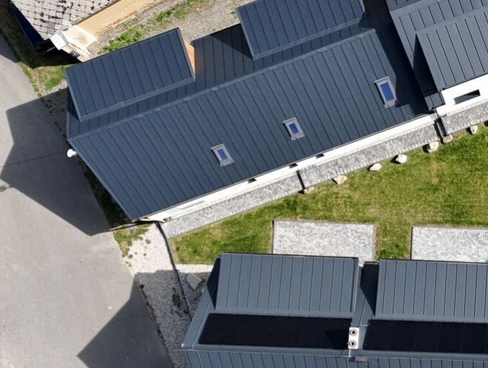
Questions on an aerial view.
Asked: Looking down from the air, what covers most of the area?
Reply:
buildings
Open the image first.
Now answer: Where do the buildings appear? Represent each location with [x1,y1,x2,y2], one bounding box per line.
[183,249,488,368]
[14,0,171,45]
[67,0,441,225]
